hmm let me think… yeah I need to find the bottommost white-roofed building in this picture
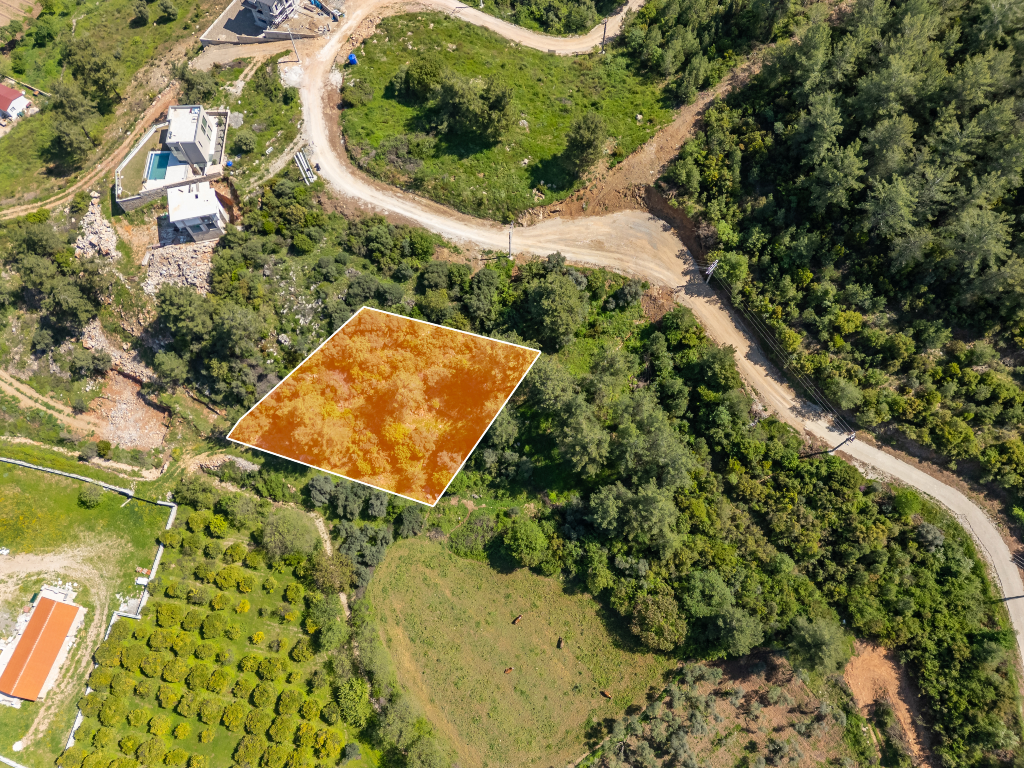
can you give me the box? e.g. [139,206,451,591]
[168,182,237,241]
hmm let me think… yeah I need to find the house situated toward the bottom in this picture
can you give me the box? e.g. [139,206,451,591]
[0,583,88,712]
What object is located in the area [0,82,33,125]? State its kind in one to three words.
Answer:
house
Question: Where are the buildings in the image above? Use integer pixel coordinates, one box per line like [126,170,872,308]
[246,0,291,27]
[0,82,33,125]
[168,182,237,241]
[163,106,219,167]
[0,583,88,712]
